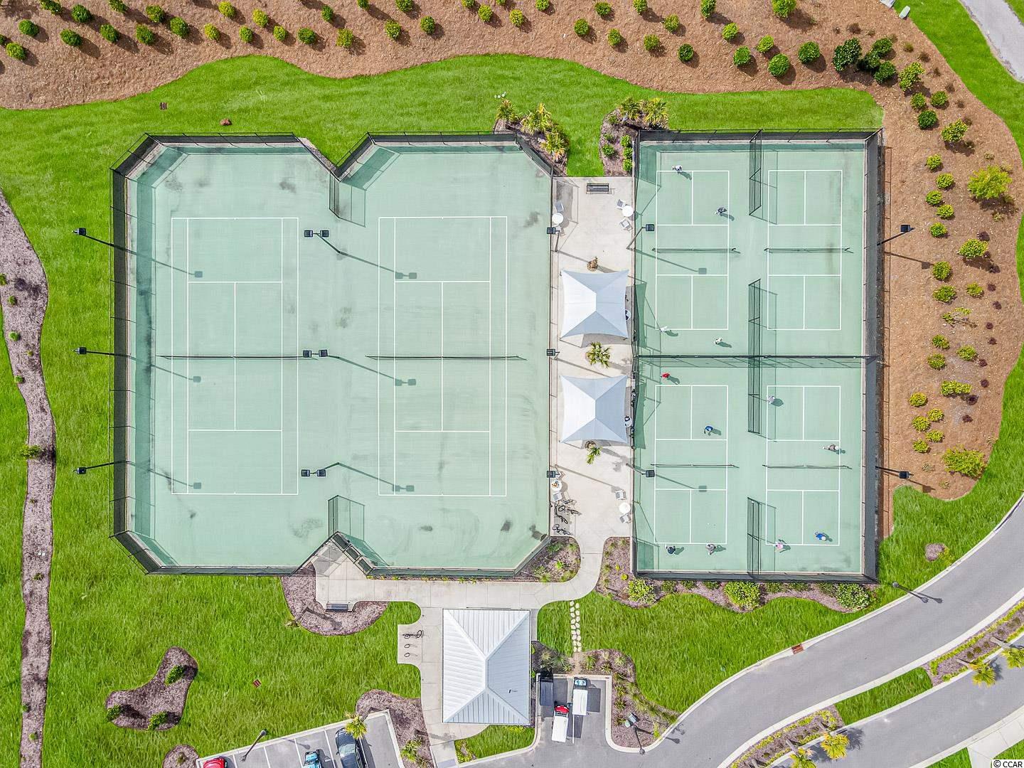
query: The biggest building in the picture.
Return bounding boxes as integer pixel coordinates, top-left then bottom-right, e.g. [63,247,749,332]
[441,607,532,726]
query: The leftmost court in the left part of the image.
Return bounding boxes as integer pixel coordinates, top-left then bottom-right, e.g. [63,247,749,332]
[131,147,340,565]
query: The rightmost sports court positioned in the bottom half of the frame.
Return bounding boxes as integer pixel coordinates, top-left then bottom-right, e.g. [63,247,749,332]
[748,358,861,570]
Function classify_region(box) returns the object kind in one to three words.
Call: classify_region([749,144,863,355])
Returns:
sports court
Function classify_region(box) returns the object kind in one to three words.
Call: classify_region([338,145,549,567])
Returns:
tennis court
